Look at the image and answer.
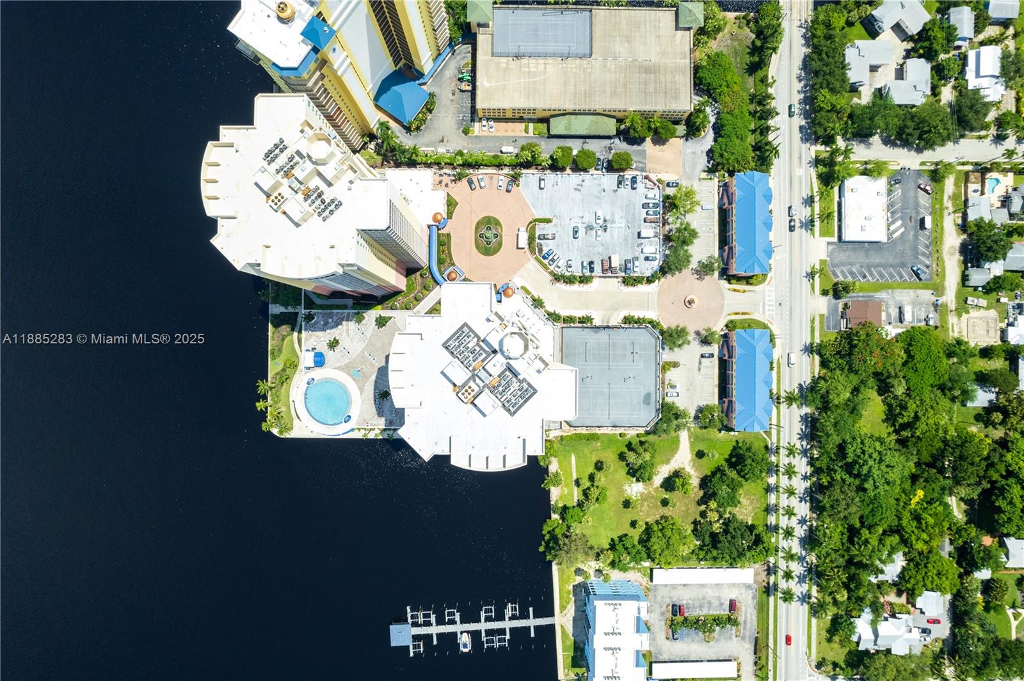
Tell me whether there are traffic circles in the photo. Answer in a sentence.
Yes, a traffic circle can be made out from above.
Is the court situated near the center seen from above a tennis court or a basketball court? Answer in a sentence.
It turns out the court situated near the center is a tennis court.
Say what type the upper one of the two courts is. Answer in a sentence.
Looking closely, the upper one of the two courts is a tennis court.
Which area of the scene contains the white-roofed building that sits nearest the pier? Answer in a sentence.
The white-roofed building that sits nearest the pier is located in the bottom region of the scene.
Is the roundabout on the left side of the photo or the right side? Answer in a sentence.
The roundabout appears in the right half of the scene.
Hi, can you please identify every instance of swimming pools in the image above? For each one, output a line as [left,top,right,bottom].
[293,368,361,435]
[988,177,1002,195]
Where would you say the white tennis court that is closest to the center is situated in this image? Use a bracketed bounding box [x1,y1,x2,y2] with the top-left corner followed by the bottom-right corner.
[562,327,662,428]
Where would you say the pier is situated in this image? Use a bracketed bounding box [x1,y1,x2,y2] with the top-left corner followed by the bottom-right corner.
[406,606,556,658]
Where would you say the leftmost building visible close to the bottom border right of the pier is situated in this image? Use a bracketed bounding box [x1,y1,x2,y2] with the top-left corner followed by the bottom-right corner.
[580,579,649,681]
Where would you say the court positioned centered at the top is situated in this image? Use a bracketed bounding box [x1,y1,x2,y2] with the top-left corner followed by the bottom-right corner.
[493,6,592,57]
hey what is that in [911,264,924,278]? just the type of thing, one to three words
vehicle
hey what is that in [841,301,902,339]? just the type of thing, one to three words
building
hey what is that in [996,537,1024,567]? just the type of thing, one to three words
house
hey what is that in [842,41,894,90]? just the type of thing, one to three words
house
